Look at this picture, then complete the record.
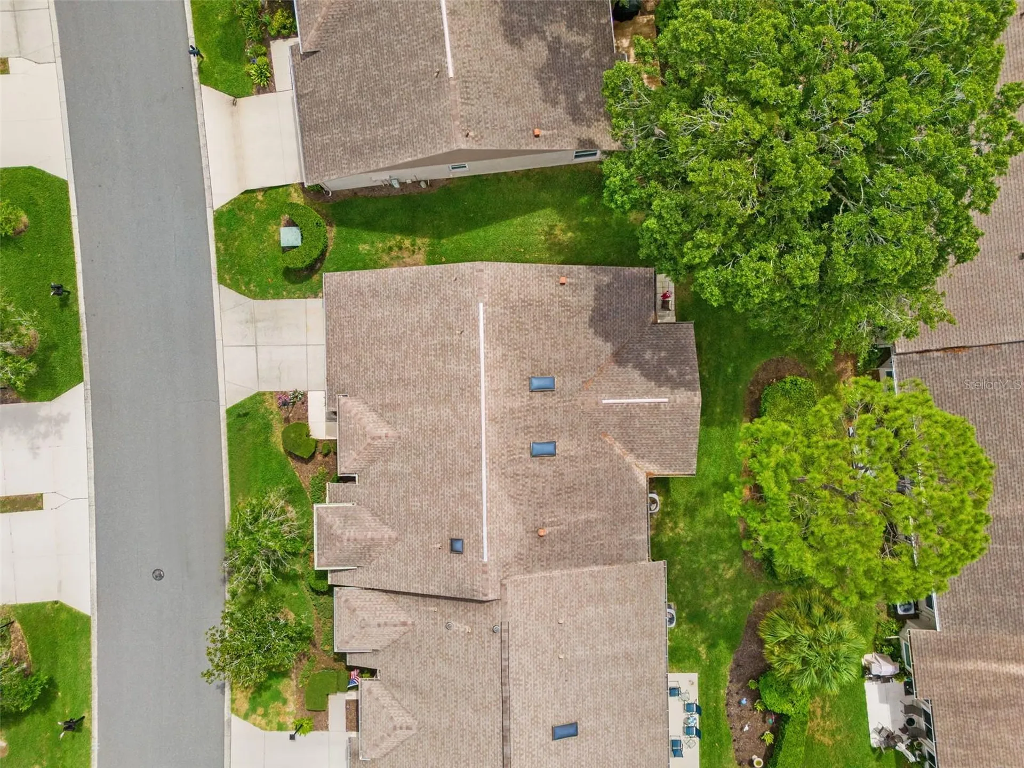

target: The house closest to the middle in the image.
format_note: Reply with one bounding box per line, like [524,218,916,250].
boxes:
[312,261,701,601]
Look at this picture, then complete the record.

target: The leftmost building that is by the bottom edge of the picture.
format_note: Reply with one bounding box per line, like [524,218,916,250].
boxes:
[329,560,670,768]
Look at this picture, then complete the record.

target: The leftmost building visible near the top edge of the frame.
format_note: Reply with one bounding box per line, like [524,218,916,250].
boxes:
[288,0,628,197]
